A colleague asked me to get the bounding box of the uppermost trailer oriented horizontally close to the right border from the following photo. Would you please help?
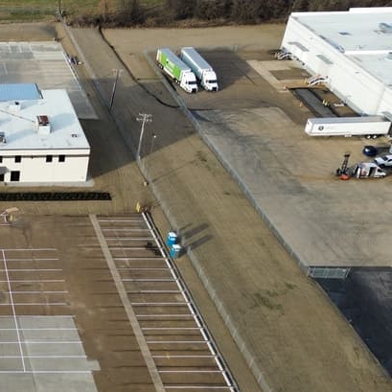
[299,115,388,140]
